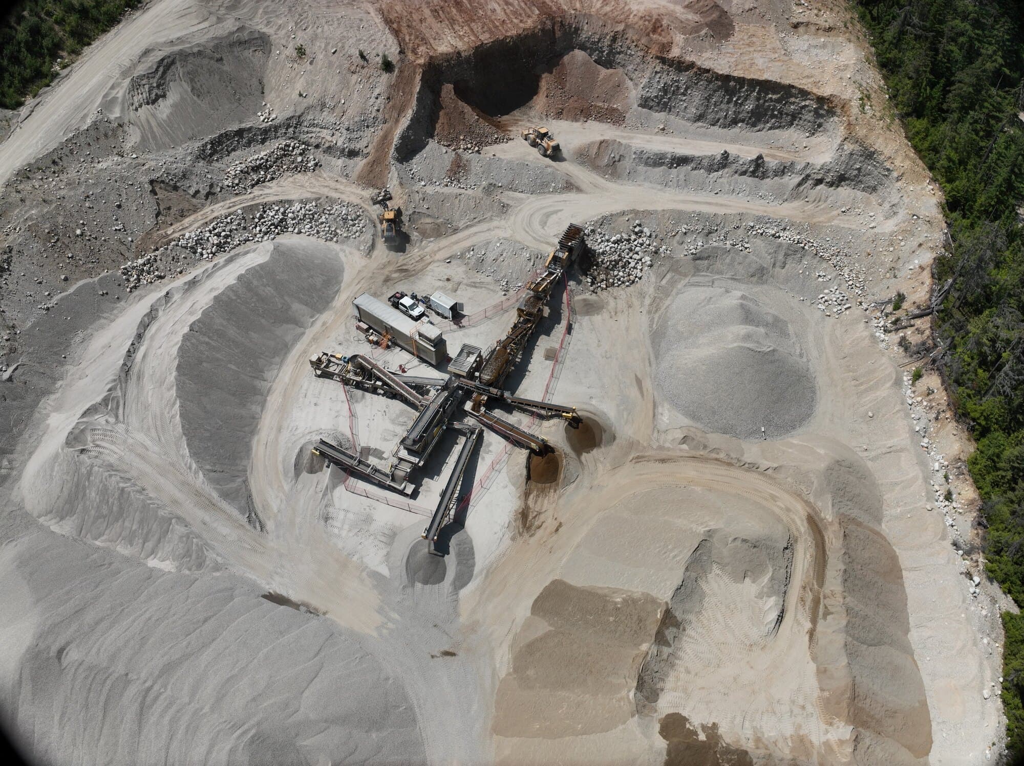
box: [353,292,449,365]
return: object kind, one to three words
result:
trailer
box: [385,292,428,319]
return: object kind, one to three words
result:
truck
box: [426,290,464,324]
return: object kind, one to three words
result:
trailer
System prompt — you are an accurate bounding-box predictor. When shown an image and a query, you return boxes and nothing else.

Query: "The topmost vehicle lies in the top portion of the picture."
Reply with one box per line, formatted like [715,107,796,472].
[516,130,562,157]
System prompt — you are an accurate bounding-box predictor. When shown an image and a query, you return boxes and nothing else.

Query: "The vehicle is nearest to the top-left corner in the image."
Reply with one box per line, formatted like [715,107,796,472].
[369,200,402,245]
